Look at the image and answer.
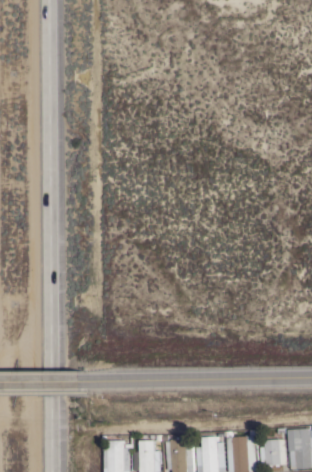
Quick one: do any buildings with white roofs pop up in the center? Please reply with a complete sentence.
No, the scene shows no building with a white roof in the center.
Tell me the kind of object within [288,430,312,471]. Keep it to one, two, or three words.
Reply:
house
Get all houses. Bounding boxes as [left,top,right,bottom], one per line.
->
[288,430,312,471]
[261,441,286,467]
[228,438,256,472]
[196,438,226,472]
[166,442,196,472]
[104,441,131,472]
[138,441,162,472]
